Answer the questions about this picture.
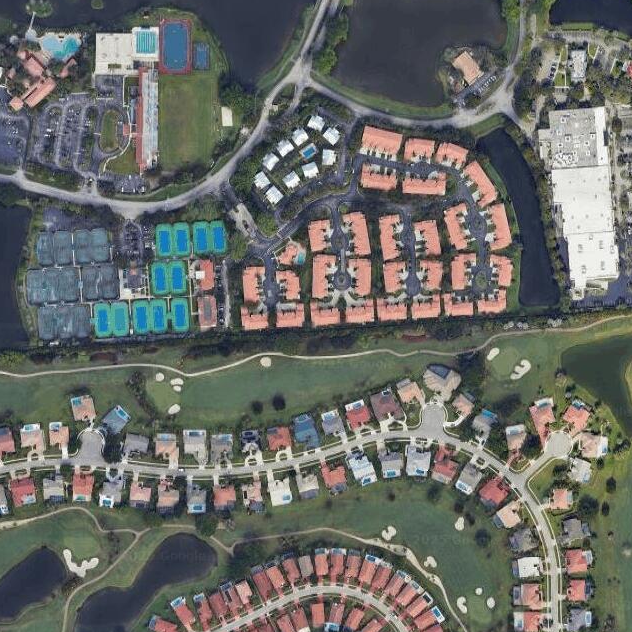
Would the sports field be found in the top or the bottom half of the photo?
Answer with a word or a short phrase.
top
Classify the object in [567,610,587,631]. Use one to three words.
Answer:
house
